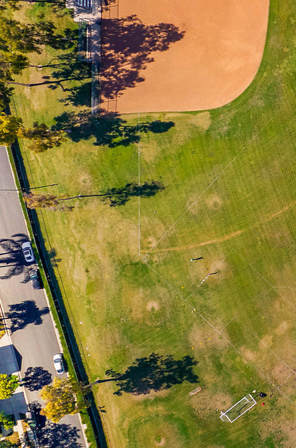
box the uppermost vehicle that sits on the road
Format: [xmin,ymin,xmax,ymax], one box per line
[21,241,34,263]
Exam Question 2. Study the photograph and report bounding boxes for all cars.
[27,267,42,290]
[21,241,34,263]
[51,353,65,375]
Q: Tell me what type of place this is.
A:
sports ground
